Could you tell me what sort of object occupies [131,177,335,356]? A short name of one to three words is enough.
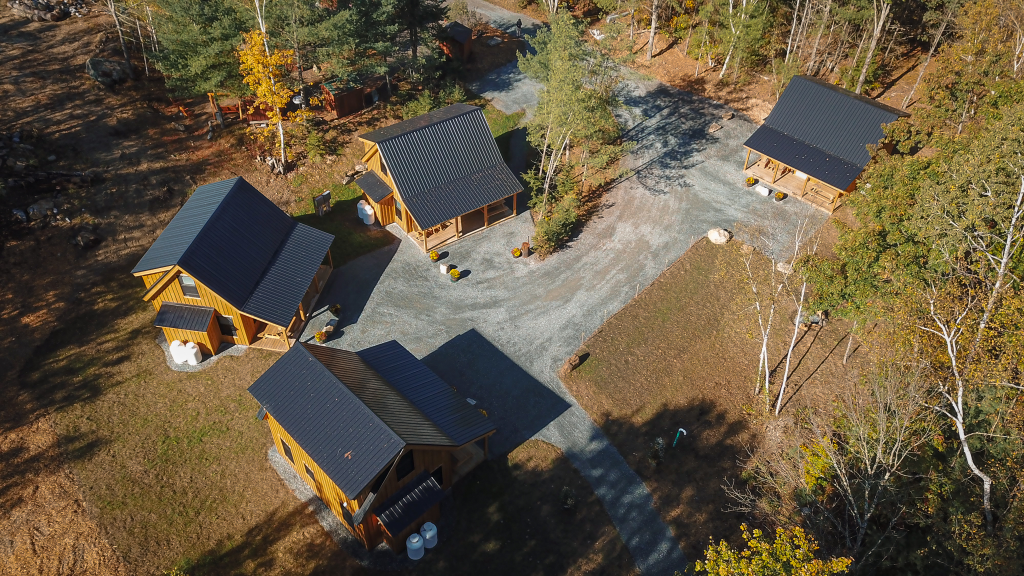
building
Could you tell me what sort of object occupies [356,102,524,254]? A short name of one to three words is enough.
building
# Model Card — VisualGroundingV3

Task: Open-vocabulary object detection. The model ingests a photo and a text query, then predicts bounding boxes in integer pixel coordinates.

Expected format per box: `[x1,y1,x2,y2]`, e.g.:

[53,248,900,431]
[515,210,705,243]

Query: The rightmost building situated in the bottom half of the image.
[248,341,497,557]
